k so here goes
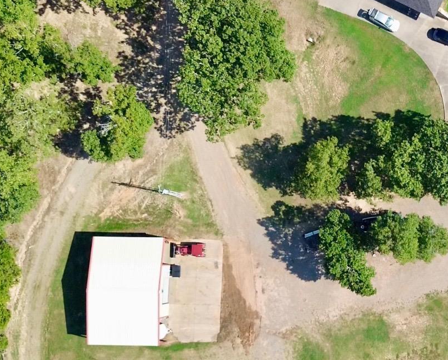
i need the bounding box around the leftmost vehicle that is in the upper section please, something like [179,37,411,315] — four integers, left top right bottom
[365,5,402,33]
